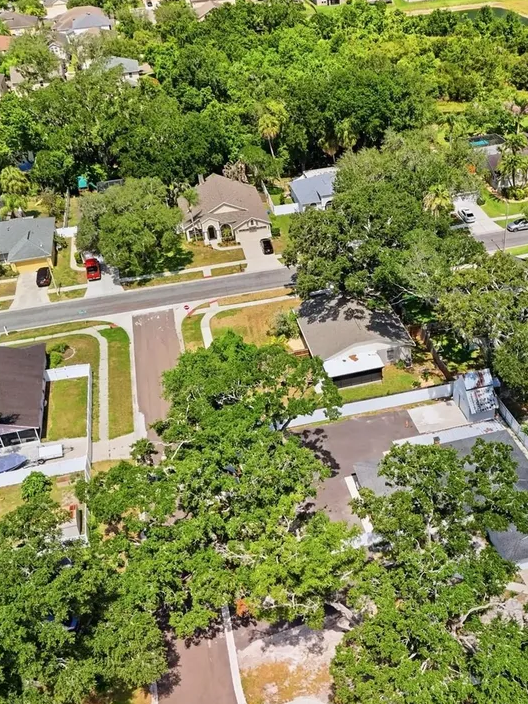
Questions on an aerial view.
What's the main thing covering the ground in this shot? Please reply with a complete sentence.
For the most part, this view shows trees.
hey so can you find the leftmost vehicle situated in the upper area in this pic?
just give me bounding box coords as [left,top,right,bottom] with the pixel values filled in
[34,270,49,285]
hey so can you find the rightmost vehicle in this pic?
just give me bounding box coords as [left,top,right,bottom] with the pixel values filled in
[504,216,528,232]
